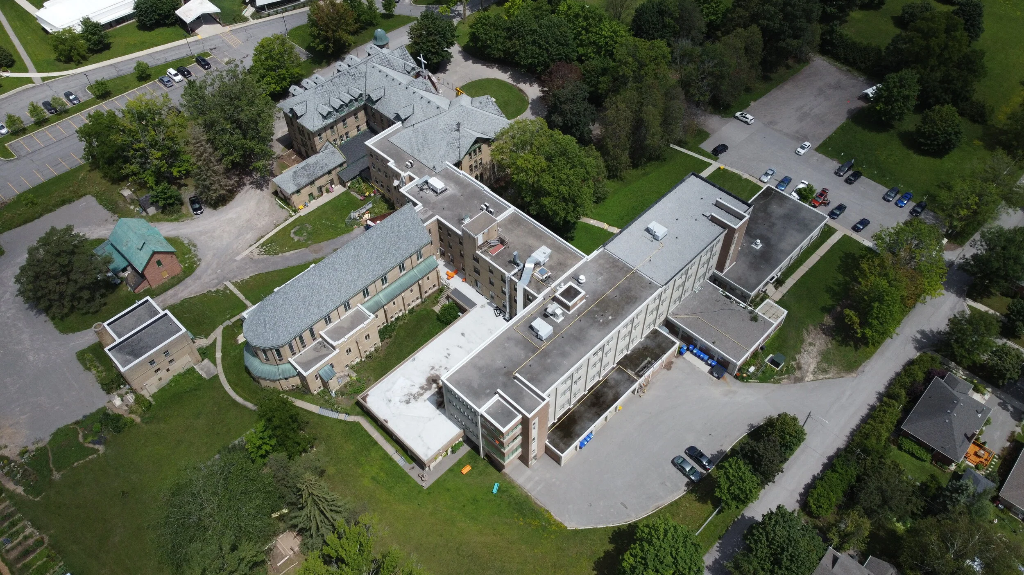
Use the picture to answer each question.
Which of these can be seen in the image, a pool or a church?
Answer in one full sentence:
There is a church in the scene.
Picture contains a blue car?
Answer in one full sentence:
Yes, the photo shows a blue car.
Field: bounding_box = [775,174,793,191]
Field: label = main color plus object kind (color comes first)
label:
blue car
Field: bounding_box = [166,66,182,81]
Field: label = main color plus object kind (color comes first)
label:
white car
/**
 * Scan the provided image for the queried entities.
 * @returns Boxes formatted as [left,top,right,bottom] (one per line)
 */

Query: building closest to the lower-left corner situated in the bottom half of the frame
[103,297,213,395]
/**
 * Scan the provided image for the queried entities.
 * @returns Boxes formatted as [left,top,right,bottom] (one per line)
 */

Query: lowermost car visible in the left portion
[190,196,202,214]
